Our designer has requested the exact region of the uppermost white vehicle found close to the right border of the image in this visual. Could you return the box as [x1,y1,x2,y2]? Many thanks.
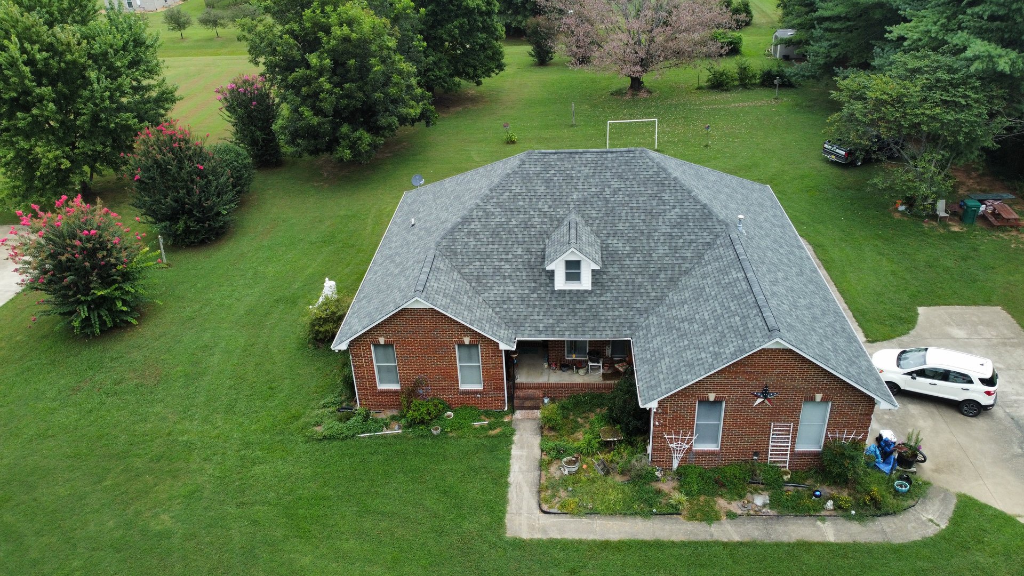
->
[873,346,998,413]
